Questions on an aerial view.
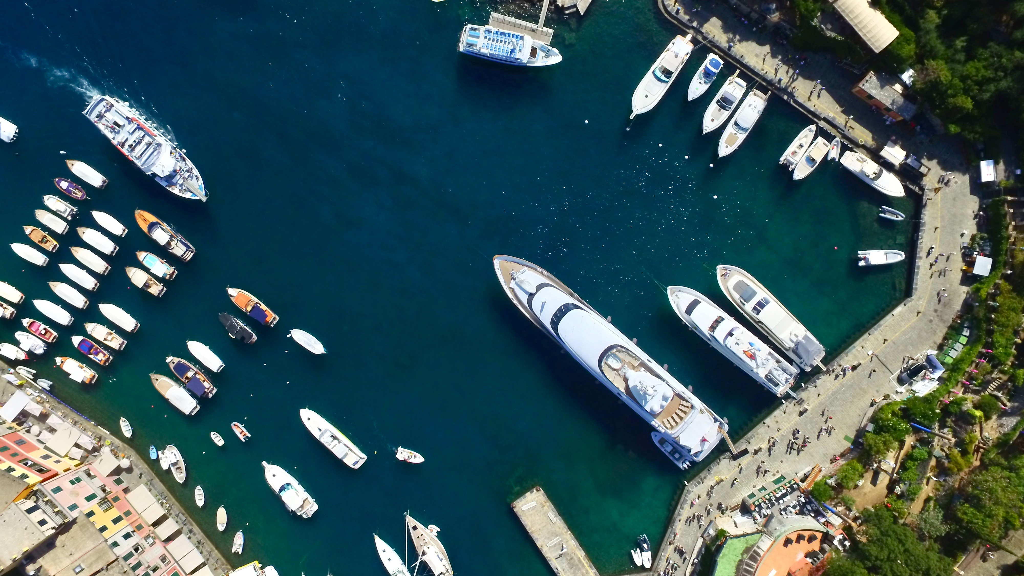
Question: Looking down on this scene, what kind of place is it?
port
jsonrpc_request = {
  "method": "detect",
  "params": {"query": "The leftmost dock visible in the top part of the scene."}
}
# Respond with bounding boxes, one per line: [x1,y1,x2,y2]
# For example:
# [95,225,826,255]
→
[489,0,554,45]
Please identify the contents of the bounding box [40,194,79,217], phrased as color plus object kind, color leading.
white boat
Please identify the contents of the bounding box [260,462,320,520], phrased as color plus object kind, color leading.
white boat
